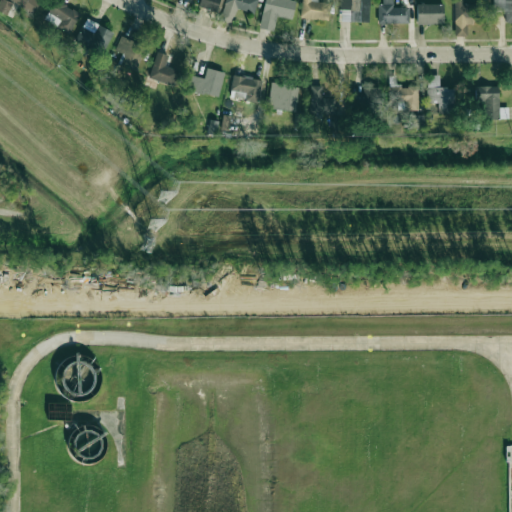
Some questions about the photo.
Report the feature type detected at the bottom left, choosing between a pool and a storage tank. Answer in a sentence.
The feature located at the bottom left is a storage tank.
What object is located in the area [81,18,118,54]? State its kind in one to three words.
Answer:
house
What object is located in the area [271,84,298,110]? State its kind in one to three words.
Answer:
house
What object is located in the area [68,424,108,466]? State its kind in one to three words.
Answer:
storage tank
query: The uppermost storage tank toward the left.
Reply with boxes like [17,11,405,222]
[55,352,102,403]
